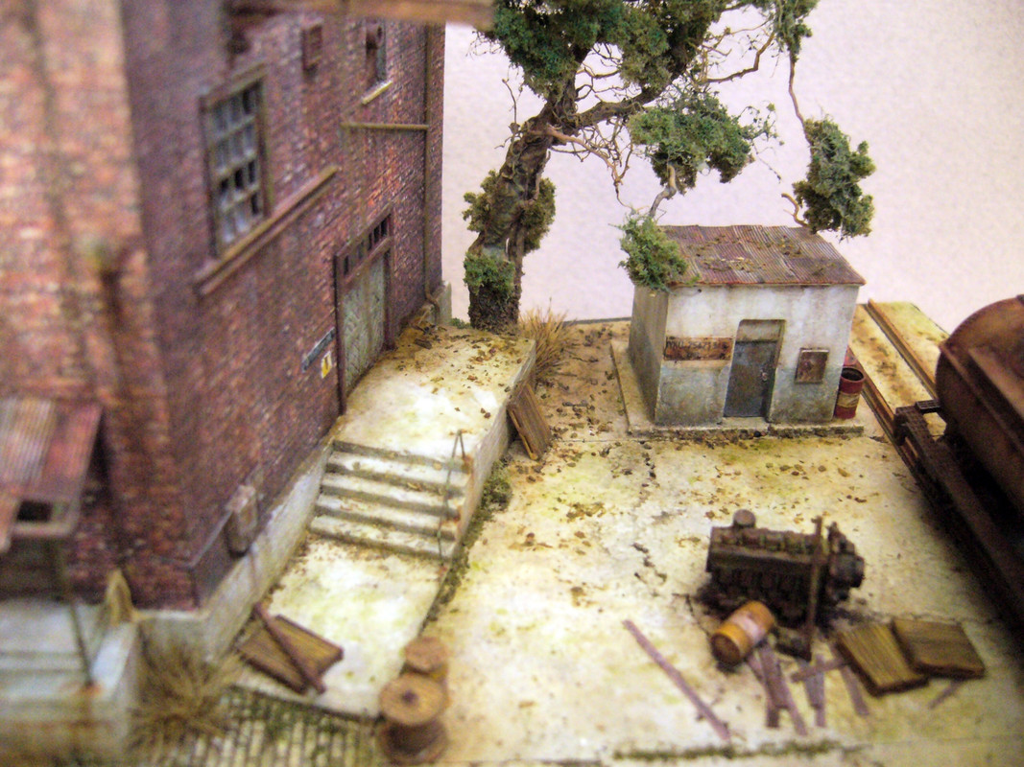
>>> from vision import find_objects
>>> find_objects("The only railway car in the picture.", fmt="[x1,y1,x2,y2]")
[879,293,1024,654]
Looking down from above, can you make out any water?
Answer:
No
